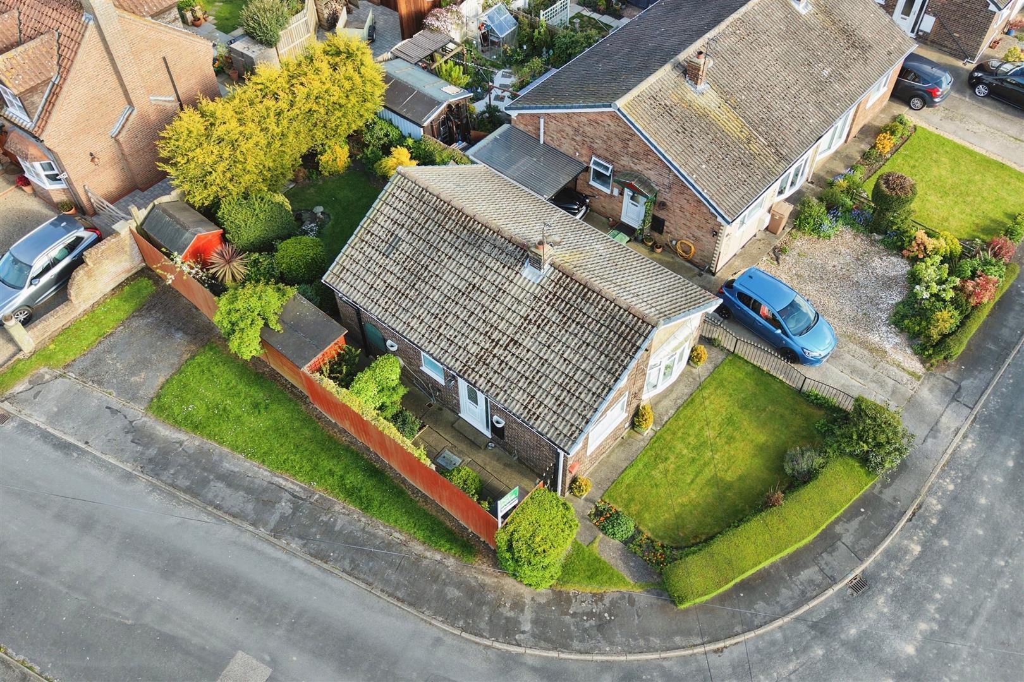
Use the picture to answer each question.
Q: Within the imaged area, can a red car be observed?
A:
No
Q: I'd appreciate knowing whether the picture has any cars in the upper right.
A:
Yes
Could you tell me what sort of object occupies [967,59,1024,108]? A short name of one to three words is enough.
car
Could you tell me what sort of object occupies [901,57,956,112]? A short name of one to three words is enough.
car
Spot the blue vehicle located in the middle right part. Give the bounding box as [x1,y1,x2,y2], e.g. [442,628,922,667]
[716,273,835,366]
